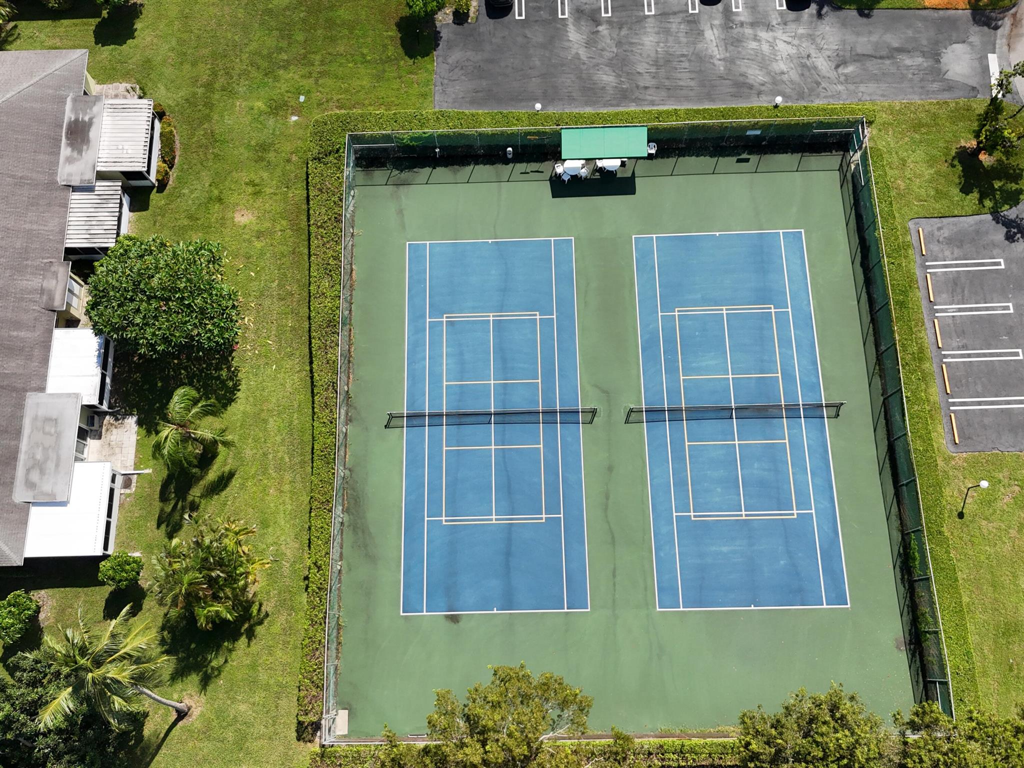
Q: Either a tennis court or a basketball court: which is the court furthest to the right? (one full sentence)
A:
The court furthest to the right appears to be a tennis court.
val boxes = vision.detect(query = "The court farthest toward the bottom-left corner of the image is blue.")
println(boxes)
[401,237,589,614]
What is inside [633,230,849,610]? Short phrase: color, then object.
blue tennis court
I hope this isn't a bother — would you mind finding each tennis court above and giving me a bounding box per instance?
[401,237,589,614]
[633,230,849,610]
